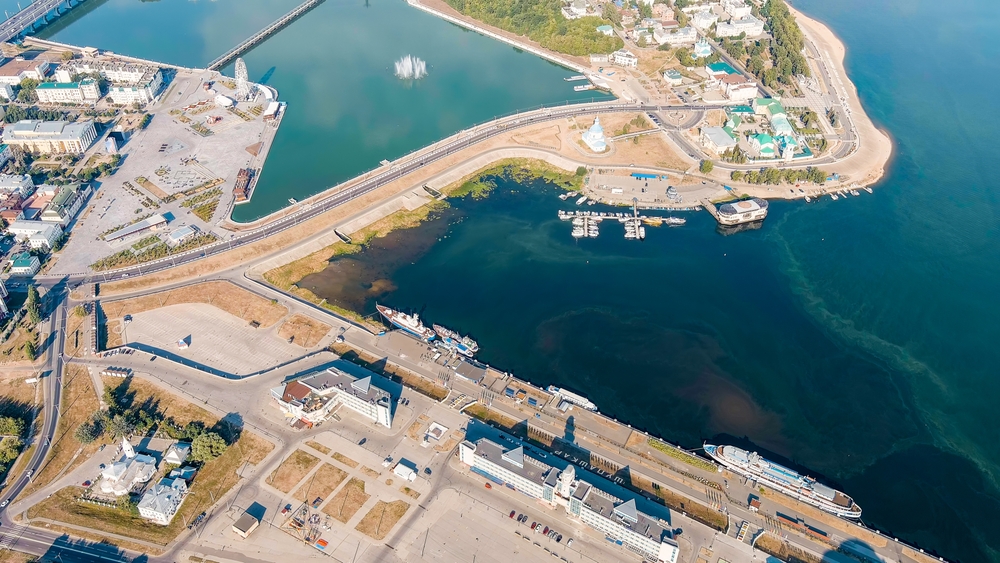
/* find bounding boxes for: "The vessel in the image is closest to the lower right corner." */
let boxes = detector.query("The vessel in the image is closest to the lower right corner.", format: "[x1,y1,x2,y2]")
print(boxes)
[706,438,863,517]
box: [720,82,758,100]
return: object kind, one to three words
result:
house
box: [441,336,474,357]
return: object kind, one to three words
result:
boat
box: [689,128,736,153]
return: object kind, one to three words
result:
building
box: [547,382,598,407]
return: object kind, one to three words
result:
boat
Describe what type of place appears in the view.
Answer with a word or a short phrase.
port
